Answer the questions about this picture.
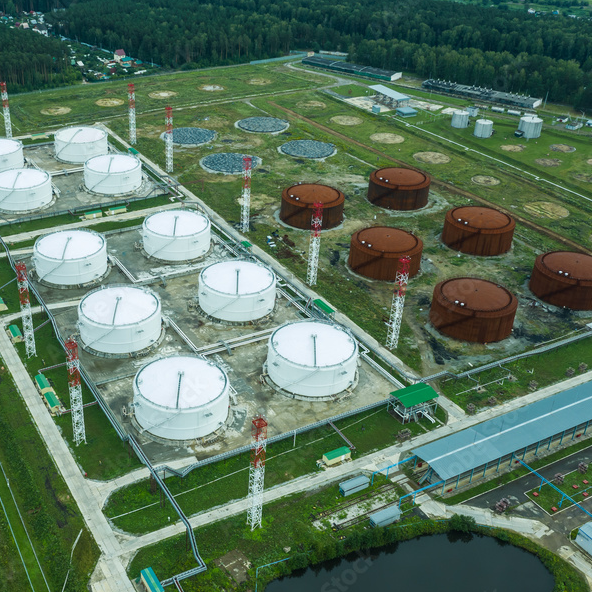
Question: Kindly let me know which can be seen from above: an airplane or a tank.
tank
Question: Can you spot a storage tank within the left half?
Yes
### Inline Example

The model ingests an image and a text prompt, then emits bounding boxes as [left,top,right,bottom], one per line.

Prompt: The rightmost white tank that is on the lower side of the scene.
[258,317,363,401]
